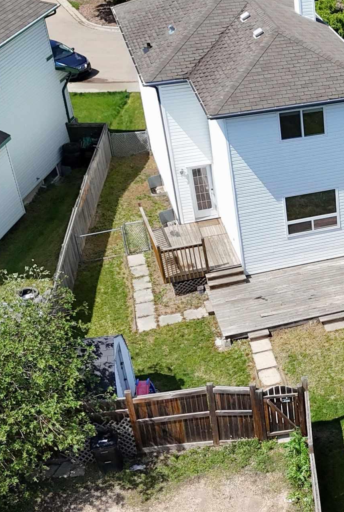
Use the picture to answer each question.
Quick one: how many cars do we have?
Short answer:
one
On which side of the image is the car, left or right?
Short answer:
left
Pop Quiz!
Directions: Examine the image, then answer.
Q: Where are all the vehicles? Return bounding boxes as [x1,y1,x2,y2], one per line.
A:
[49,30,89,70]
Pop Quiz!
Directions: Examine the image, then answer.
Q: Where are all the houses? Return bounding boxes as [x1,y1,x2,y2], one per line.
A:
[103,0,344,276]
[0,0,83,235]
